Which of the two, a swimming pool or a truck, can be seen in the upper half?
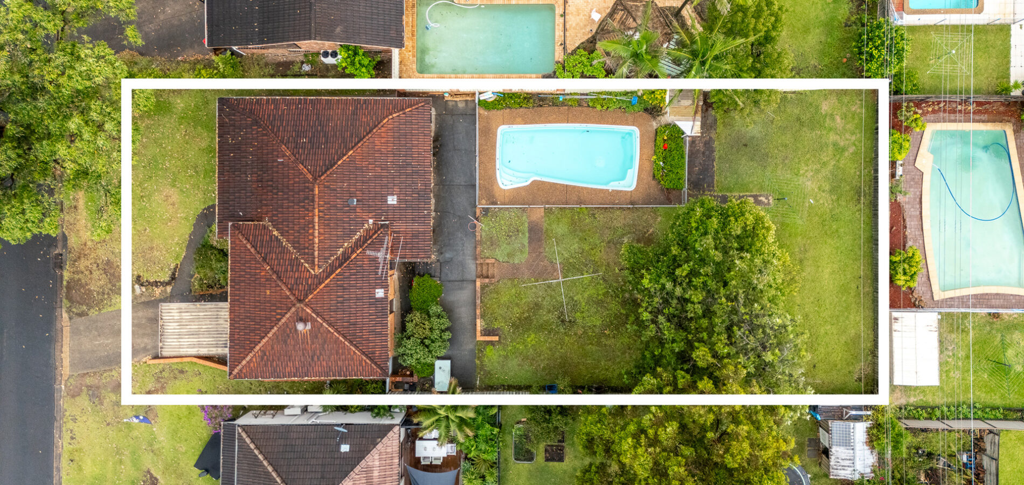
swimming pool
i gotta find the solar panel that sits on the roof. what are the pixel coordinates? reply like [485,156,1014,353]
[831,422,850,447]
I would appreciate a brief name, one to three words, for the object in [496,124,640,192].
swimming pool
